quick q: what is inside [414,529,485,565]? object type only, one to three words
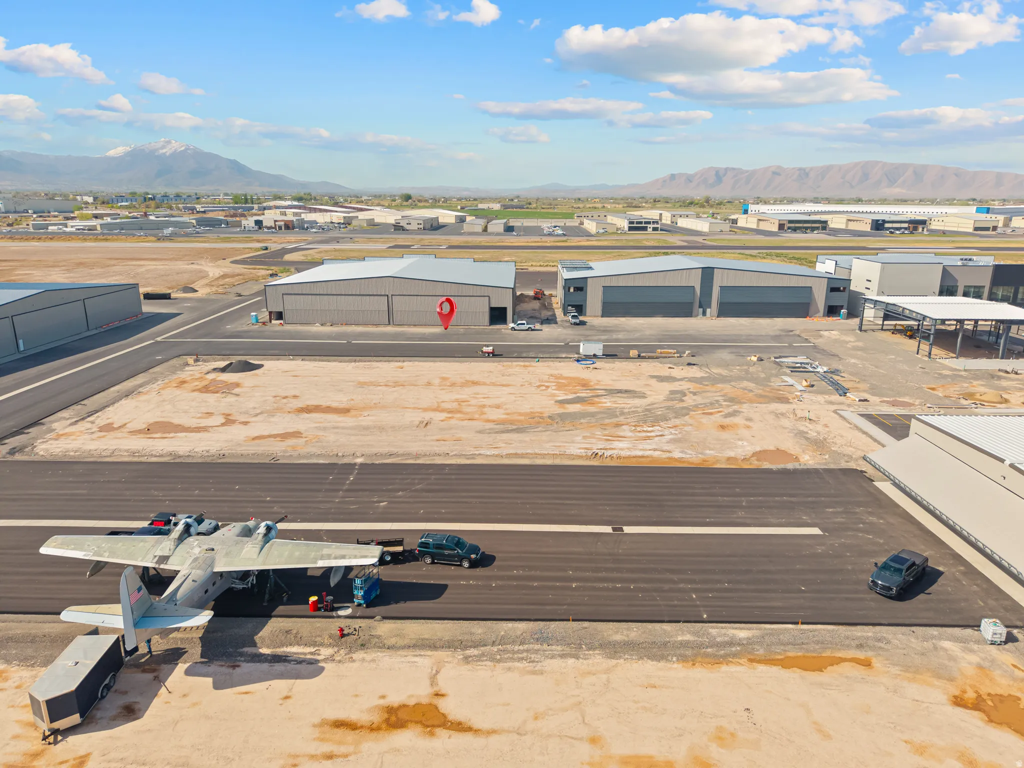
car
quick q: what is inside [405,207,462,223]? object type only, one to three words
hangar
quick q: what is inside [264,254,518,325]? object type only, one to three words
hangar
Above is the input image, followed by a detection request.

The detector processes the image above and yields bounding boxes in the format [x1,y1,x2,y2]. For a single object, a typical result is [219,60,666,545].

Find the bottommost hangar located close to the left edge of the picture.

[0,282,142,363]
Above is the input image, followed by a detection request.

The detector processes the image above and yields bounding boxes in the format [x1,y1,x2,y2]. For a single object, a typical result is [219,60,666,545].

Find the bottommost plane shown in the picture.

[39,514,384,653]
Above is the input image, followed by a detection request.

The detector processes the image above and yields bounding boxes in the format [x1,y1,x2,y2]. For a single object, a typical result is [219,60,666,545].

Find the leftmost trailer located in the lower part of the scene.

[27,627,139,750]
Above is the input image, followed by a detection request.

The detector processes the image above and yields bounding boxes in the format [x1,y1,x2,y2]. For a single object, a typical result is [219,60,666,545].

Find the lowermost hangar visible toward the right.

[862,408,1024,586]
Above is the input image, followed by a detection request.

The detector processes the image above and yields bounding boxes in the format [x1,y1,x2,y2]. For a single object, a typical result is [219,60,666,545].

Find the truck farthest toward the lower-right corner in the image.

[872,546,933,594]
